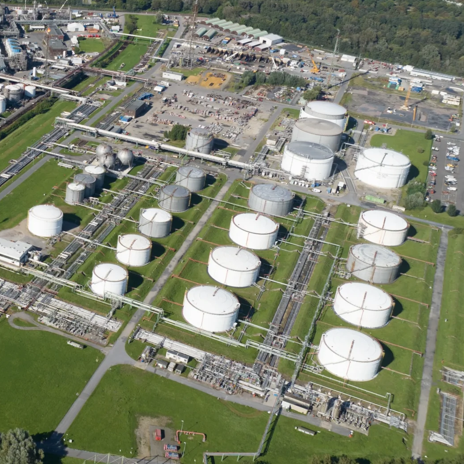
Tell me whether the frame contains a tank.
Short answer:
Yes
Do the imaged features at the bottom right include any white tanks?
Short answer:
Yes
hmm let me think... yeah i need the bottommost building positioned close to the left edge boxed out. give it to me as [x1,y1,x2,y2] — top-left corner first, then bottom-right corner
[0,236,32,267]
